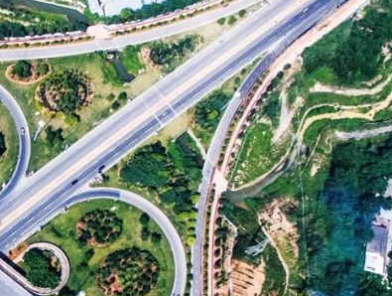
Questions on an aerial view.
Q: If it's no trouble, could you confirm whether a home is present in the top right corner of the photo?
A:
No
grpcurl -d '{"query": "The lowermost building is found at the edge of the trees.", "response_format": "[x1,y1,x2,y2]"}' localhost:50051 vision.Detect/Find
[361,251,385,272]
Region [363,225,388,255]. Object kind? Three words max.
house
